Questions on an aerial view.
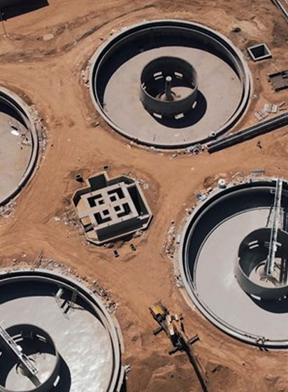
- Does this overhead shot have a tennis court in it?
No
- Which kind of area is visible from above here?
industrial area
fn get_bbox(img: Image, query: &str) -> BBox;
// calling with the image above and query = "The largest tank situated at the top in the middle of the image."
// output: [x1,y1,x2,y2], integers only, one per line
[87,19,253,150]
